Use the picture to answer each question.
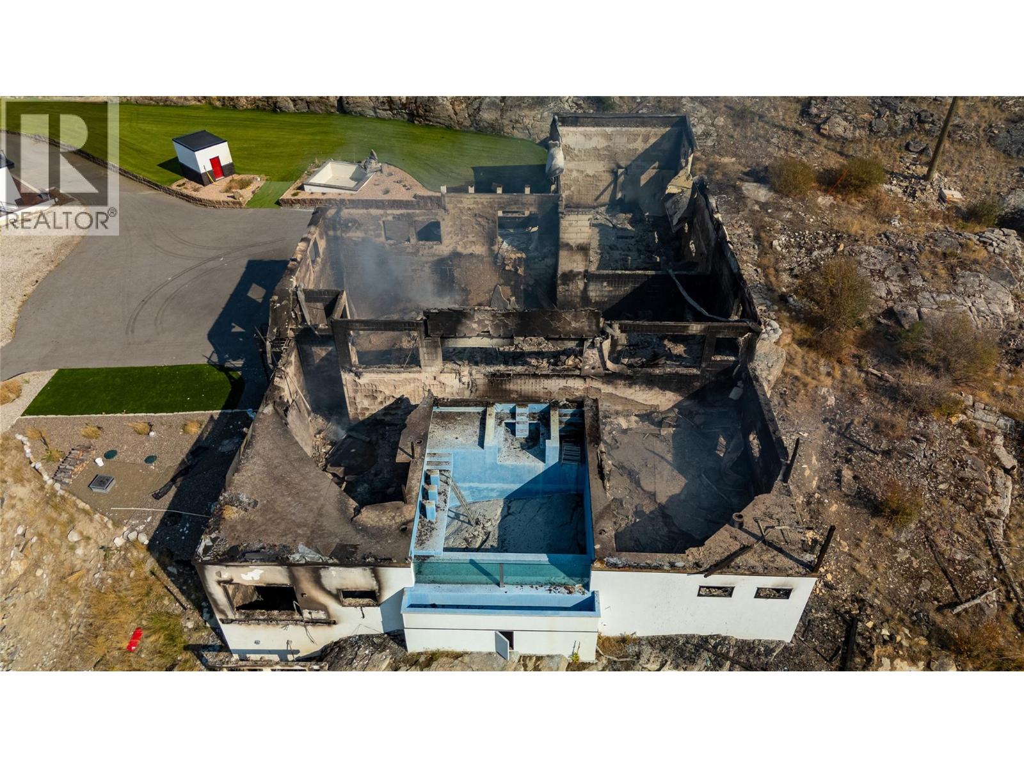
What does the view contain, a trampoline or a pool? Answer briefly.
pool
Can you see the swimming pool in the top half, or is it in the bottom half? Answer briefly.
bottom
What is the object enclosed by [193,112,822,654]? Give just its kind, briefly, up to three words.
house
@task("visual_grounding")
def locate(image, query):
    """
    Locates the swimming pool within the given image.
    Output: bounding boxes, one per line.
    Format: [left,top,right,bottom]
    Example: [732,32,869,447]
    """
[400,404,602,661]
